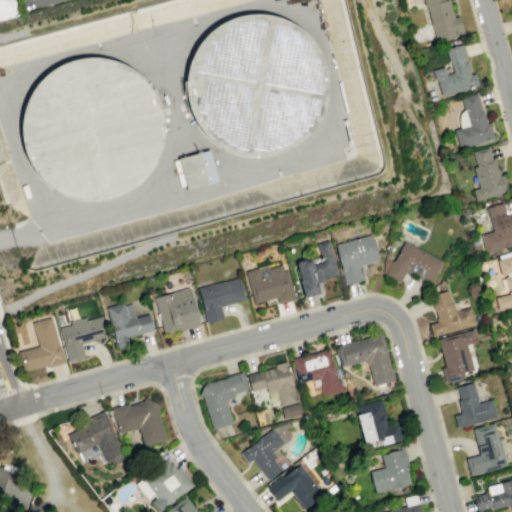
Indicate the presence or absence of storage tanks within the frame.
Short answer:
Yes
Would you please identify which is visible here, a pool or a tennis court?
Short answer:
pool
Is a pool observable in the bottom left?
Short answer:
Yes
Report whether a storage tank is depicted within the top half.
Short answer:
Yes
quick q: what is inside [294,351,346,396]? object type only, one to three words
house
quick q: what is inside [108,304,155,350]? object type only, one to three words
house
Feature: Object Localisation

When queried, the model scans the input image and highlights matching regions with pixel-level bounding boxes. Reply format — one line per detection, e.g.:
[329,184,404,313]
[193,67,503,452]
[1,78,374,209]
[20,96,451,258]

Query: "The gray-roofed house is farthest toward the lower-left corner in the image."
[0,470,34,511]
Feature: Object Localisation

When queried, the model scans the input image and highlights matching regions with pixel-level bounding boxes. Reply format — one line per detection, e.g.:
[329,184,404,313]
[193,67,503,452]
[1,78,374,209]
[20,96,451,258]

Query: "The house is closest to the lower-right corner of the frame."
[474,480,512,512]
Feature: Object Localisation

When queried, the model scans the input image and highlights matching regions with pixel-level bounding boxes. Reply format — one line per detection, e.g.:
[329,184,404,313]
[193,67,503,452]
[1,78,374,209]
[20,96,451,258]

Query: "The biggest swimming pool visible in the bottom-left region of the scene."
[118,482,138,504]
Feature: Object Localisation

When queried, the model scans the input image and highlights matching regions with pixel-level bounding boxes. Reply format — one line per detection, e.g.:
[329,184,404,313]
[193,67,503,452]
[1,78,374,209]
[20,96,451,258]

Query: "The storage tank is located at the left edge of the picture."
[24,58,167,201]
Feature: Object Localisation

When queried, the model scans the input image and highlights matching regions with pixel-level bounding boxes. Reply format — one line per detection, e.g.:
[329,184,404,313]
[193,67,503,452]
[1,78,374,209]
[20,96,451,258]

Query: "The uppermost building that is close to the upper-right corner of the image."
[428,0,465,42]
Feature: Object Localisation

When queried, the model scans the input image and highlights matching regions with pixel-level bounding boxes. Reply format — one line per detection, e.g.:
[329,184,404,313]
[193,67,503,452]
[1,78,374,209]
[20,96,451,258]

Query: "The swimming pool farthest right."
[406,220,430,241]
